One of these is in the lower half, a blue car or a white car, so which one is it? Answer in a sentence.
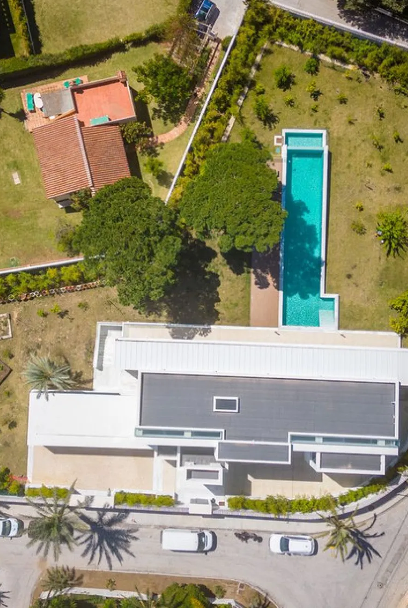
The feature located in the lower half is a white car.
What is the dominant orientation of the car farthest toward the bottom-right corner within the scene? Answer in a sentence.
The car farthest toward the bottom-right corner is laid out from side to side.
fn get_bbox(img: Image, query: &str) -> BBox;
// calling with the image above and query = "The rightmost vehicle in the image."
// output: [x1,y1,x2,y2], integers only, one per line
[268,534,316,557]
